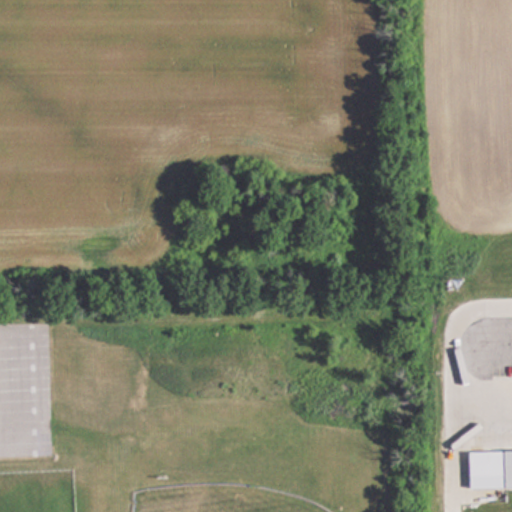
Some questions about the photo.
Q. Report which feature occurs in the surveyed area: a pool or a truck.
truck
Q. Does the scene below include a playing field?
Yes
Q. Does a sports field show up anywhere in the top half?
No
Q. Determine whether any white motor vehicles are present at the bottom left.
No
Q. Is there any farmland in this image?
Yes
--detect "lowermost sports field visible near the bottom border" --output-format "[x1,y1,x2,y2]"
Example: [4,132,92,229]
[0,470,76,512]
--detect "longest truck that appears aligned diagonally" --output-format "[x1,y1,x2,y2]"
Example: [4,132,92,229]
[446,424,482,459]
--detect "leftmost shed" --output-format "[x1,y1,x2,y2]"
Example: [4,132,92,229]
[469,452,505,490]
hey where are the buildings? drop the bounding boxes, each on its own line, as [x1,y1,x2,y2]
[506,450,512,492]
[469,452,505,490]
